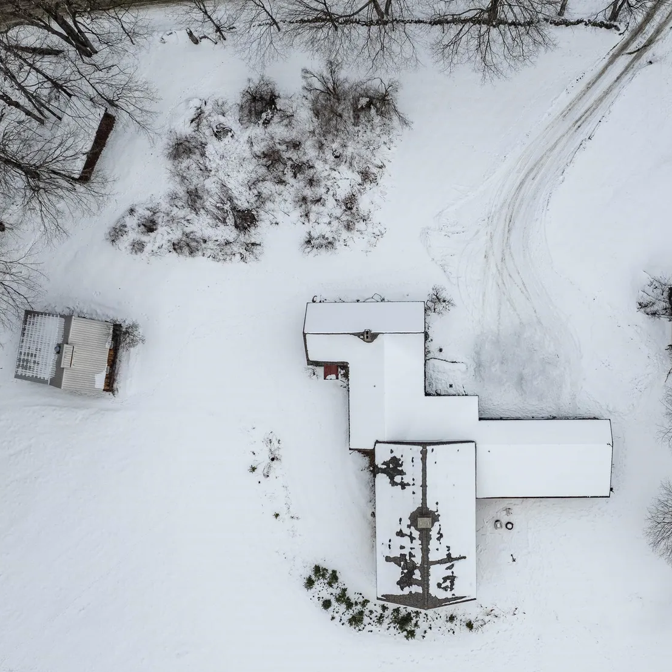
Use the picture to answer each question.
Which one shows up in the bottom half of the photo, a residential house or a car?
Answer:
residential house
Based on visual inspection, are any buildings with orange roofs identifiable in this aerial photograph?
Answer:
No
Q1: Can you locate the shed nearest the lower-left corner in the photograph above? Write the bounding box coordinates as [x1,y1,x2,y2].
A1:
[15,309,122,392]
